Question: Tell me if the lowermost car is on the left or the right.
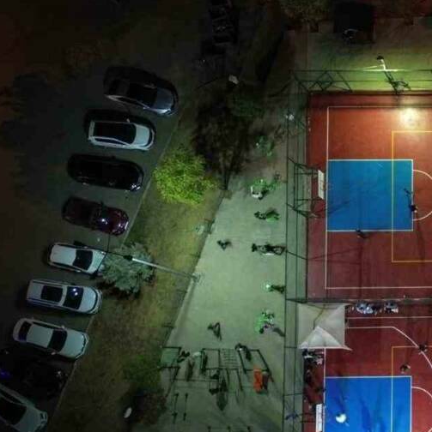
left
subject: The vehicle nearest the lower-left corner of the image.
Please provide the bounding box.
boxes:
[0,382,49,432]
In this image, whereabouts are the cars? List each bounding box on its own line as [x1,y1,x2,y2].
[0,382,49,432]
[86,117,161,154]
[61,197,132,236]
[27,280,106,316]
[44,241,113,278]
[15,319,90,358]
[108,72,180,115]
[68,154,147,193]
[0,352,68,394]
